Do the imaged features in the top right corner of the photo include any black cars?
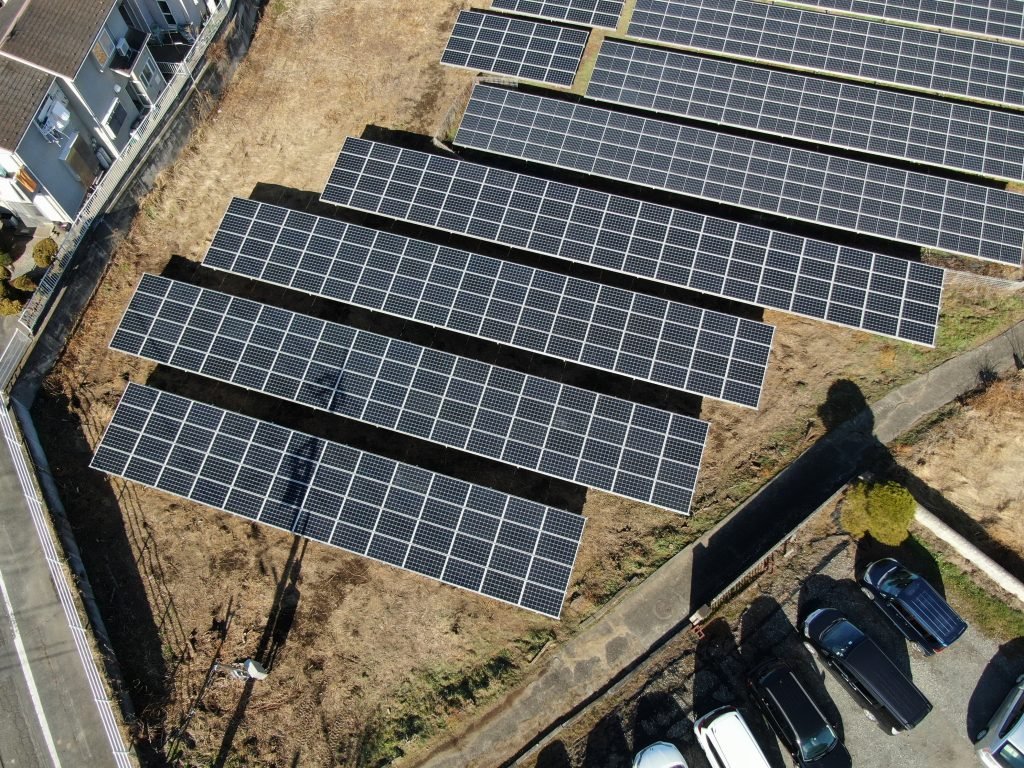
No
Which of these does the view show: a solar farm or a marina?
solar farm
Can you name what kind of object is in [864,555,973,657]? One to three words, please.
car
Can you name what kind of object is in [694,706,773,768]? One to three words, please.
car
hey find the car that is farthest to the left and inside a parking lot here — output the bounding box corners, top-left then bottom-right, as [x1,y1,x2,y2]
[635,740,691,768]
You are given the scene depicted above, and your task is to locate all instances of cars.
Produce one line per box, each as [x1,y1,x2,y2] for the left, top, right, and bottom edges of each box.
[635,740,691,768]
[864,555,973,657]
[747,654,871,768]
[694,706,773,768]
[800,603,932,742]
[974,666,1024,768]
